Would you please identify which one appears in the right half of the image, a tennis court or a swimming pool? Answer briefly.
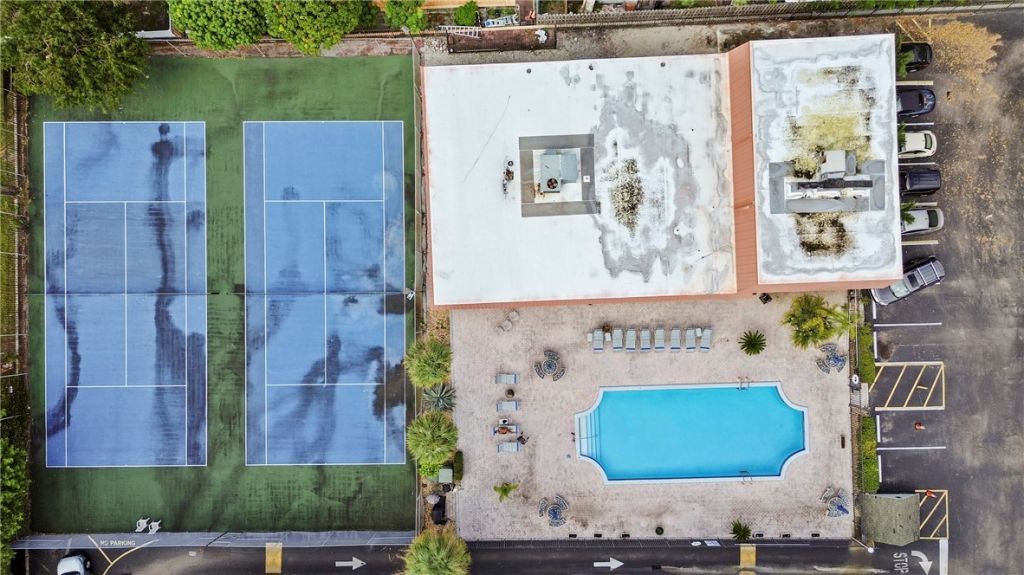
swimming pool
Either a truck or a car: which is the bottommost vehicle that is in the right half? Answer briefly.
car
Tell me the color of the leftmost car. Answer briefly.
white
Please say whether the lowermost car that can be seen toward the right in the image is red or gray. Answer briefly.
gray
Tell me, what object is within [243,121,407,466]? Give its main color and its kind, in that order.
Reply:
blue tennis court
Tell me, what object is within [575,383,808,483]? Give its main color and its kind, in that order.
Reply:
blue swimming pool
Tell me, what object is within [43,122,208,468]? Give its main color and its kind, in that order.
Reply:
blue tennis court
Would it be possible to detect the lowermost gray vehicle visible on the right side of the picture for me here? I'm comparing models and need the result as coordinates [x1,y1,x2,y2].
[871,257,946,305]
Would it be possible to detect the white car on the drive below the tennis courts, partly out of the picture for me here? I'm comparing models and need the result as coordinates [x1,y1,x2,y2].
[58,552,90,575]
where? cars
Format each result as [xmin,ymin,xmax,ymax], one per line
[900,207,939,236]
[871,257,946,305]
[899,168,940,198]
[894,45,934,77]
[896,89,932,119]
[897,131,934,160]
[58,552,90,575]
